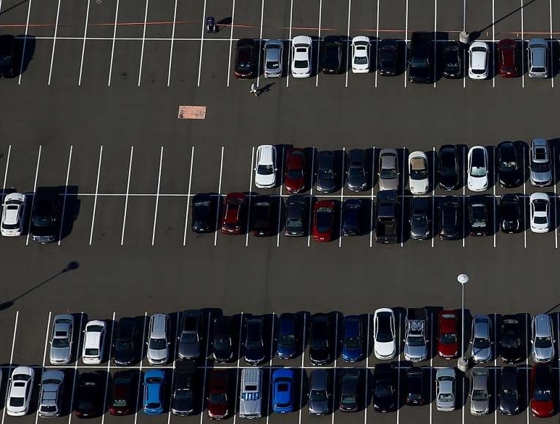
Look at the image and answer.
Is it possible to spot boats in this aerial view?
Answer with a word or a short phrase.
No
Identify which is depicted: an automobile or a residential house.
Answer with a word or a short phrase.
automobile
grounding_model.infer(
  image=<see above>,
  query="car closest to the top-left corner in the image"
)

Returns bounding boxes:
[0,32,18,77]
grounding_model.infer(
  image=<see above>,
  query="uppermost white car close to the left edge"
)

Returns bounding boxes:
[0,191,27,236]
